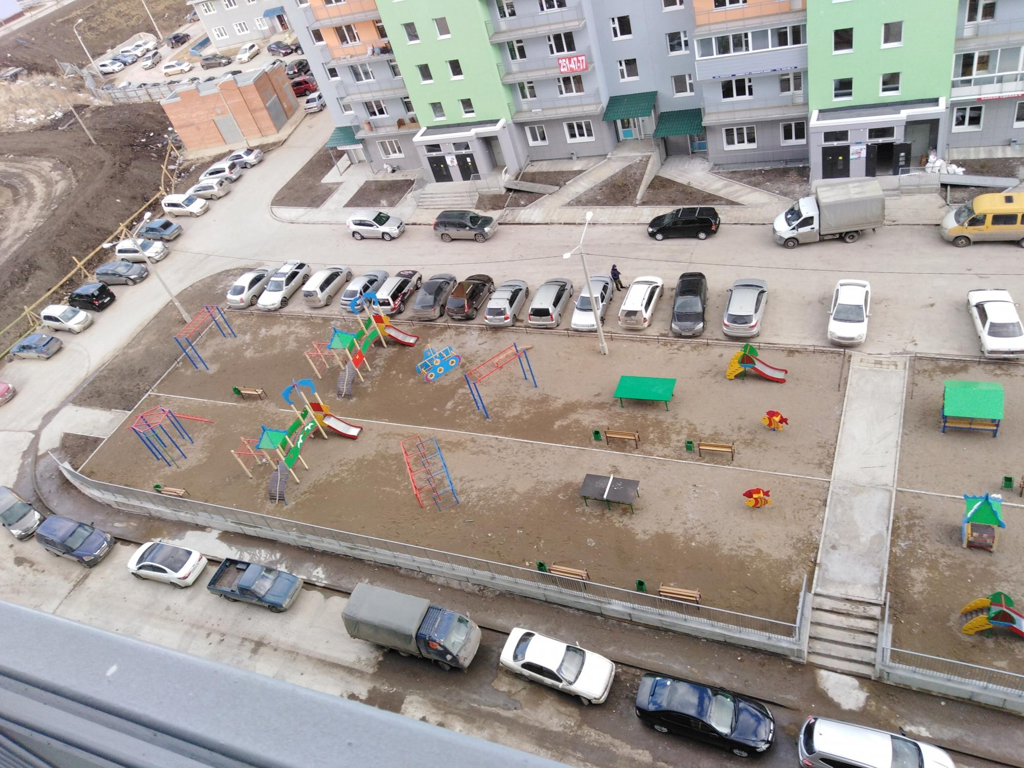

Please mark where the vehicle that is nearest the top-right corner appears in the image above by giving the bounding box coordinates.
[940,188,1024,246]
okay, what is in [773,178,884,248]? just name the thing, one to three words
truck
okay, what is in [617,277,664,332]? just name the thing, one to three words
car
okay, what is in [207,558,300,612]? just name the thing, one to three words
truck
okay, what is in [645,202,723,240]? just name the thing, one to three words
car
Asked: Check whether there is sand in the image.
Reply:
Yes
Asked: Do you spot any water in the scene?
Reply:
No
